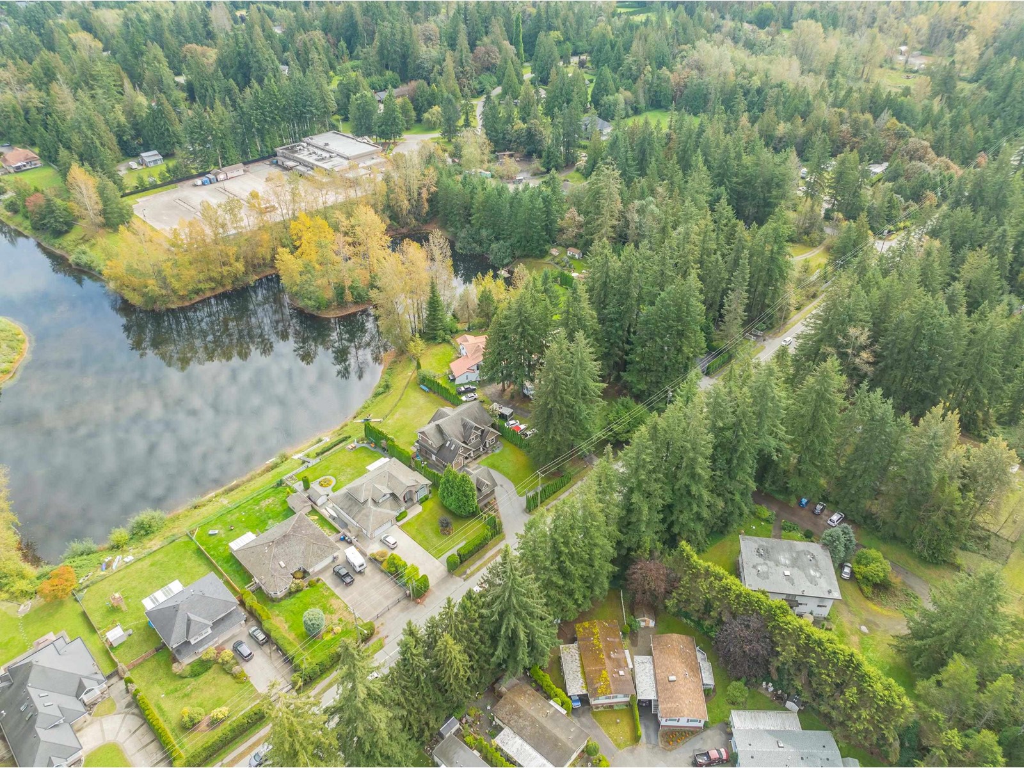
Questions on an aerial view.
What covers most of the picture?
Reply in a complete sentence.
Most of the picture is covered by trees.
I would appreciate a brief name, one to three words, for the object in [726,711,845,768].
house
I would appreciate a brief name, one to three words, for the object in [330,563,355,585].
truck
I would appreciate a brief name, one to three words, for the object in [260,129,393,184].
building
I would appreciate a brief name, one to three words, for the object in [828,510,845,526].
car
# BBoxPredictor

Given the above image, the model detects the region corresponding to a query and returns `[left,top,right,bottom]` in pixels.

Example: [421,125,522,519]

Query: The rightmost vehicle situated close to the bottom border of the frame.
[694,745,732,764]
